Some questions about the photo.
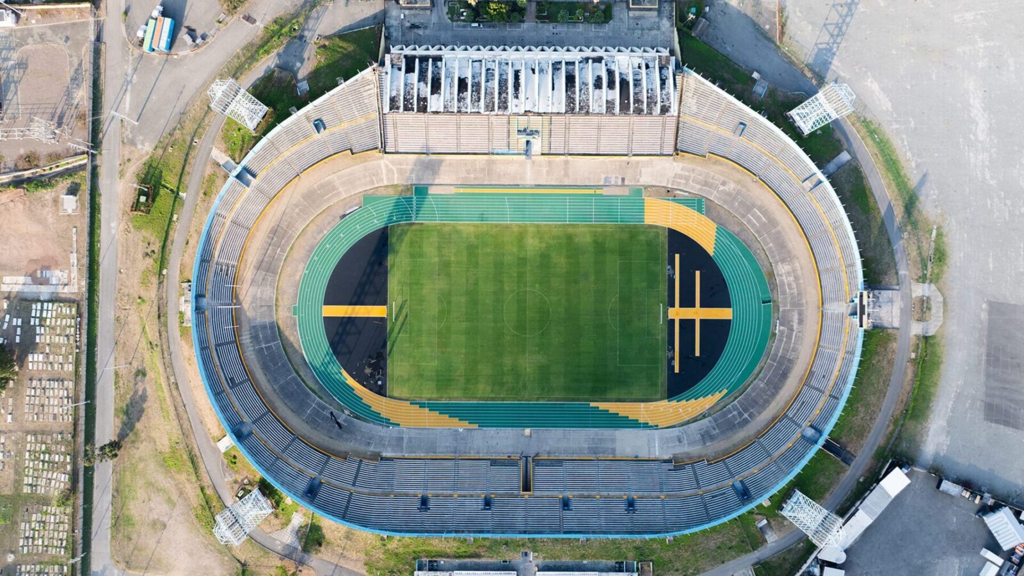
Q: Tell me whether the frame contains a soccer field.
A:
Yes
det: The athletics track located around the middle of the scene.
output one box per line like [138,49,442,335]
[293,186,772,429]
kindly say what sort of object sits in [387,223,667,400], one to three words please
soccer field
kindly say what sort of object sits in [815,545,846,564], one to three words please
shed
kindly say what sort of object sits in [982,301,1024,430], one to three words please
sports court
